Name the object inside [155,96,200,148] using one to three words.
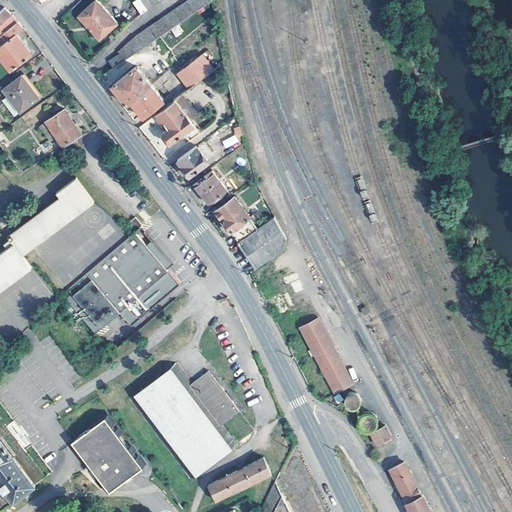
house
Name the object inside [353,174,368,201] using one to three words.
rail car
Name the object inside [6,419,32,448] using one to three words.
shed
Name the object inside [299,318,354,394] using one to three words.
building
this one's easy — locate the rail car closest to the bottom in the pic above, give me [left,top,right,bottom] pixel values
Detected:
[364,199,380,224]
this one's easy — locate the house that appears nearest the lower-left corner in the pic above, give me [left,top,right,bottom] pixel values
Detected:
[0,438,36,506]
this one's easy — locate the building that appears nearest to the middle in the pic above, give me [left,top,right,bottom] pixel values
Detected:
[238,218,288,270]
